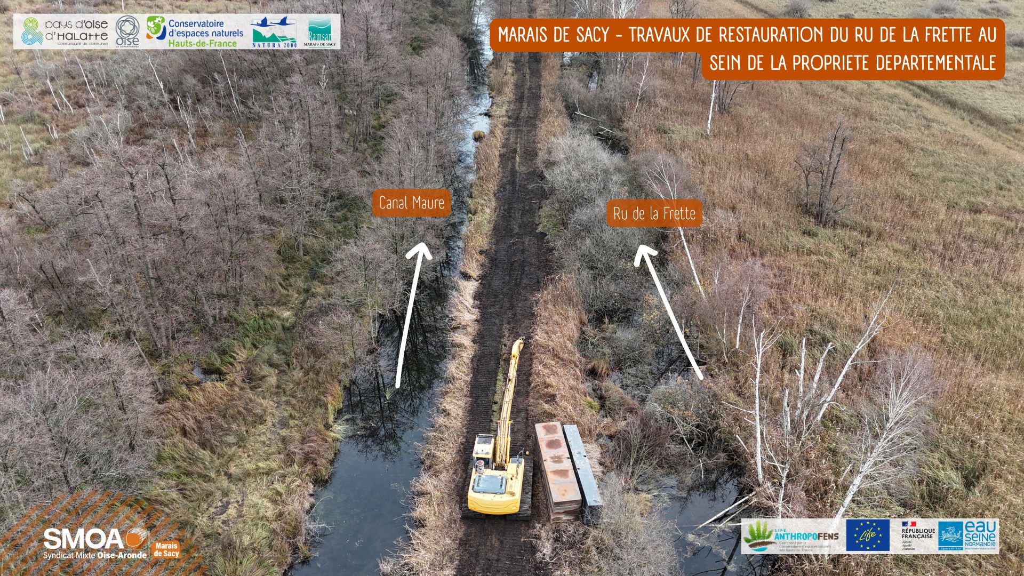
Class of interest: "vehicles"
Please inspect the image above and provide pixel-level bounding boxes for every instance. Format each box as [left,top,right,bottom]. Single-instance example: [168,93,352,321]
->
[461,335,534,518]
